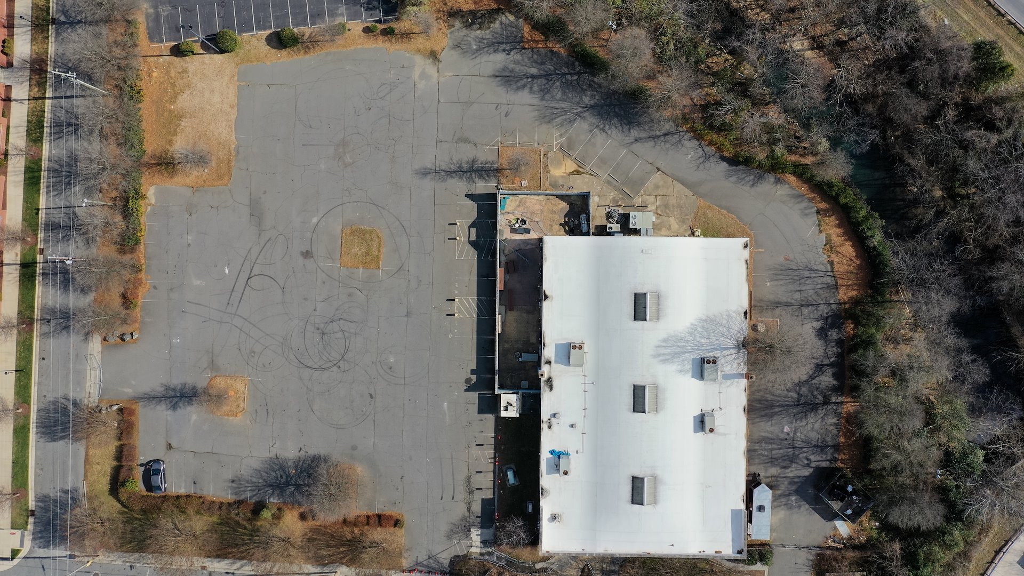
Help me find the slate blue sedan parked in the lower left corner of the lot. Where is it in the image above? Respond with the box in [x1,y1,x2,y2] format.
[147,460,165,493]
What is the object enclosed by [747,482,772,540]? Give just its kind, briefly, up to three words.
shed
